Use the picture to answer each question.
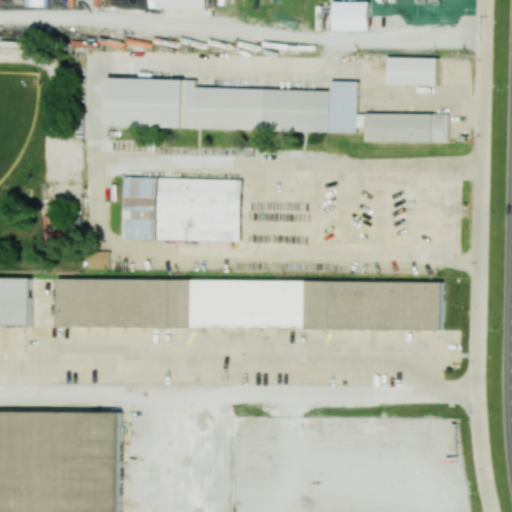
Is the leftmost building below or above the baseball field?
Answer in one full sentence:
The position of the leftmost building is below the baseball field.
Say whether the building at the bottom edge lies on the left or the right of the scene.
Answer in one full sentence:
The building at the bottom edge is on the left side of the image.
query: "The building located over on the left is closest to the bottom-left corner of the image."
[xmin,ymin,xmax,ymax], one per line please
[0,412,122,512]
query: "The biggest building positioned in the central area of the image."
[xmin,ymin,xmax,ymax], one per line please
[56,280,444,334]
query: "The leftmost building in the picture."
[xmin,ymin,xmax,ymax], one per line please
[0,278,33,327]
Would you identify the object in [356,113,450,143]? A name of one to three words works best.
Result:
building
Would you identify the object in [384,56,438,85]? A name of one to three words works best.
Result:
shed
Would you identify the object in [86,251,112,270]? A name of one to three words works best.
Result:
shed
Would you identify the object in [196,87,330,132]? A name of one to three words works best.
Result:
building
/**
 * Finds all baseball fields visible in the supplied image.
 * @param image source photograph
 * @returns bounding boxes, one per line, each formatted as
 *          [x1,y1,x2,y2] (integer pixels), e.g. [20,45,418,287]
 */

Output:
[0,71,40,183]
